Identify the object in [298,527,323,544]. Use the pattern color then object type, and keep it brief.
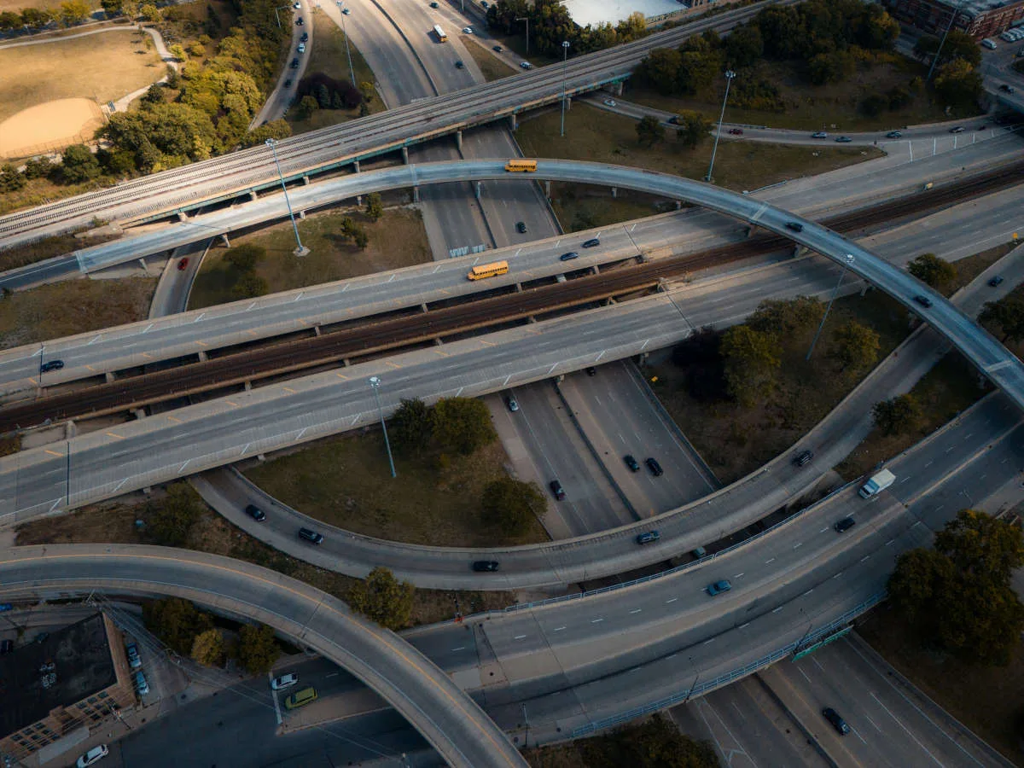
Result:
black car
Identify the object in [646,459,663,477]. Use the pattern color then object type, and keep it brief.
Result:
black car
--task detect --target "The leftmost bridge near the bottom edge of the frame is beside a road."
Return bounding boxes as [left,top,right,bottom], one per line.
[0,543,532,768]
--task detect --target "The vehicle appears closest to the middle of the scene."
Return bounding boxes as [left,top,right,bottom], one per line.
[506,395,518,410]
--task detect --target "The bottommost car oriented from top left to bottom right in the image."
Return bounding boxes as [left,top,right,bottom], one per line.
[821,707,852,738]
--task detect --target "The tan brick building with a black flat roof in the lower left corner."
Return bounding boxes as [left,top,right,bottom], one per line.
[0,611,132,766]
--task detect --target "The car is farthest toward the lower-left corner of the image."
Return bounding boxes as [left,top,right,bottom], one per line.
[72,741,112,768]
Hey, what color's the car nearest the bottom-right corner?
black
